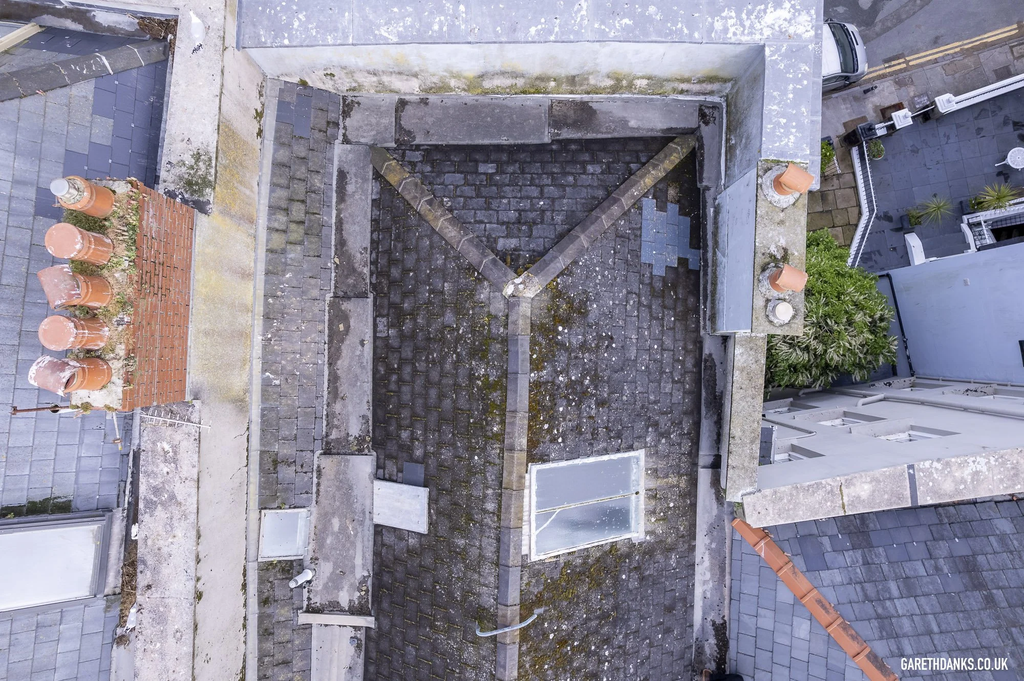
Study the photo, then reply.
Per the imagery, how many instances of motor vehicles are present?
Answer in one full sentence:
My tally gives 1 motor vehicle in this photo.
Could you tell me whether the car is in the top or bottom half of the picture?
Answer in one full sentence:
The car is in the top half of the image.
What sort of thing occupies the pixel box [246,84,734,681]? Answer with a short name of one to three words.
house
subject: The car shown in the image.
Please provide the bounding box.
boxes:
[820,21,869,102]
